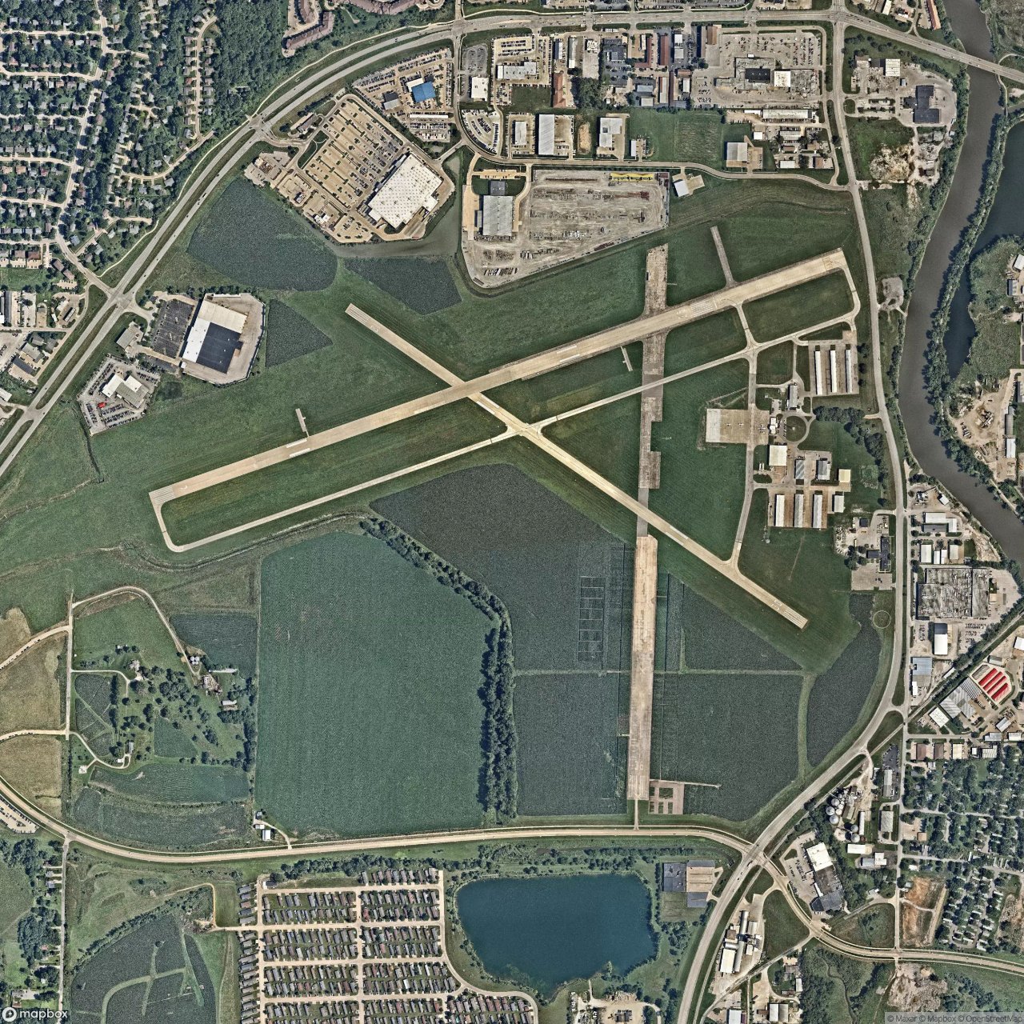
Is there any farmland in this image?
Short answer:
Yes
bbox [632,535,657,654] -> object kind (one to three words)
runway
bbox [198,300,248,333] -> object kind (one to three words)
building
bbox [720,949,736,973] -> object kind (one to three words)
shed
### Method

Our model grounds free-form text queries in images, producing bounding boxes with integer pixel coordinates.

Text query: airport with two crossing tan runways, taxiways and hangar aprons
[149,226,860,801]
